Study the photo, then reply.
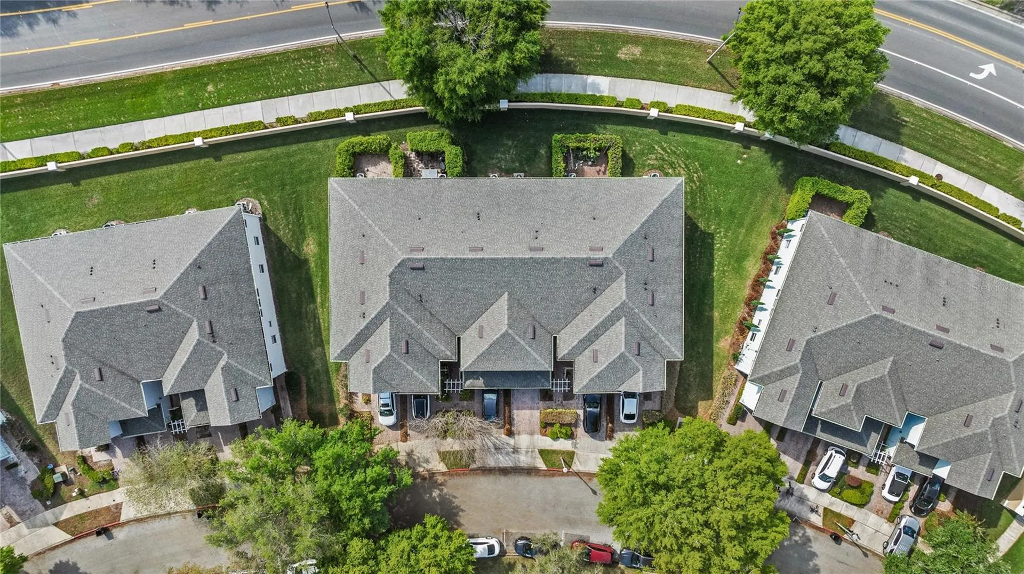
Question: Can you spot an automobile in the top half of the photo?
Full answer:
No, there is no automobile in the top half of the photo.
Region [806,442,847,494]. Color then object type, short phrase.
white car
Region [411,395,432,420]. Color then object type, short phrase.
black car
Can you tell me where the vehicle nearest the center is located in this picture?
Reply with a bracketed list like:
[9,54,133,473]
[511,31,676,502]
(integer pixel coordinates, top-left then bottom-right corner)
[478,389,502,421]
